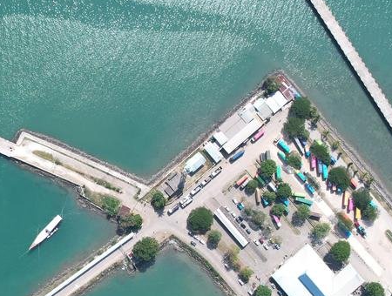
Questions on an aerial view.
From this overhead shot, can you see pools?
No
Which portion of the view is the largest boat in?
bottom left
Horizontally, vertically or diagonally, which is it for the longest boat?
diagonally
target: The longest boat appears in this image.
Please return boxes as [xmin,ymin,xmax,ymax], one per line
[28,214,62,250]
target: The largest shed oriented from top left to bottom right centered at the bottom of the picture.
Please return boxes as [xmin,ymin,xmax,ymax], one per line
[213,208,248,247]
